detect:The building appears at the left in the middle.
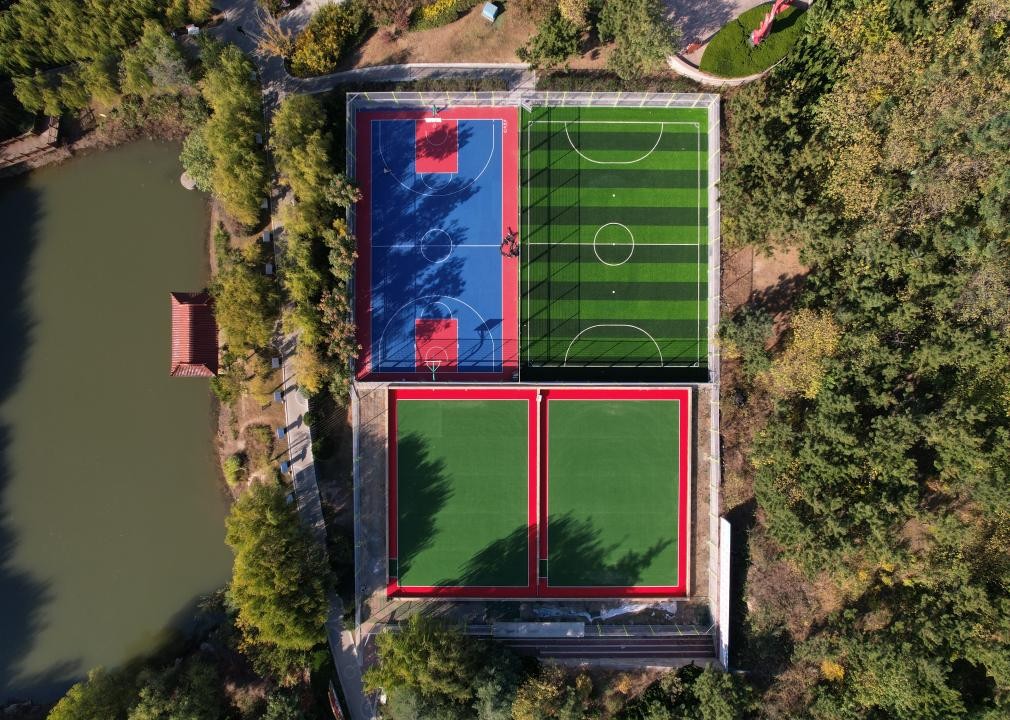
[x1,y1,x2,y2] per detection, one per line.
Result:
[169,291,227,379]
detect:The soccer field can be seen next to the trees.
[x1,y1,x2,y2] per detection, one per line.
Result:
[521,107,709,382]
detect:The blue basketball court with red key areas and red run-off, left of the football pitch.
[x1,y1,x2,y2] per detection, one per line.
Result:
[356,107,519,382]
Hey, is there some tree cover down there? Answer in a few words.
Yes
